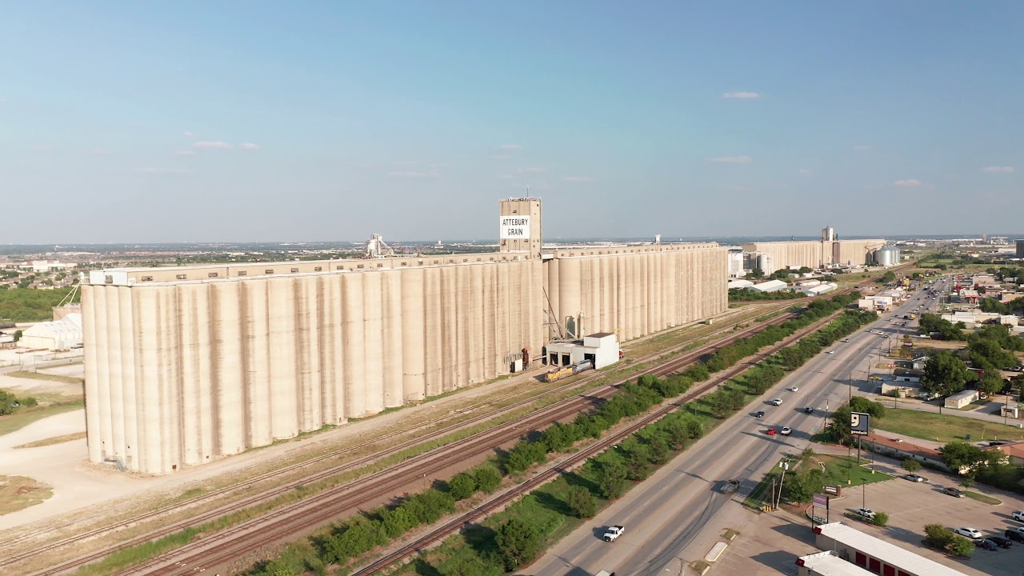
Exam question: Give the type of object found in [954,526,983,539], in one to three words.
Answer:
vehicle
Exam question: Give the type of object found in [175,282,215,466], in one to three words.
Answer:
silo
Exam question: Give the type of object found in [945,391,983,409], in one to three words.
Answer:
house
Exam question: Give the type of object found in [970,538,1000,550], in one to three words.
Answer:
vehicle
